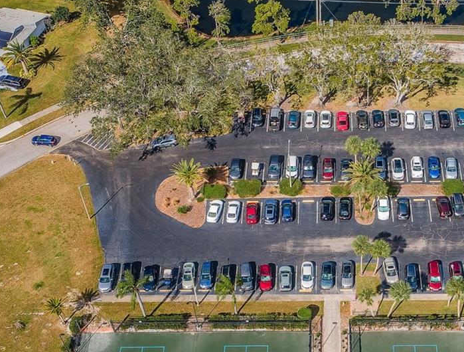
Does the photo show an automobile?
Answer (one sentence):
Yes, an automobile is visible in the scene.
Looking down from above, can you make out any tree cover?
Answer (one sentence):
Yes, tree cover can be seen from above here.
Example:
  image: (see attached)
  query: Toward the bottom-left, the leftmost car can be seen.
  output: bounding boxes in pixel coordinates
[98,264,115,292]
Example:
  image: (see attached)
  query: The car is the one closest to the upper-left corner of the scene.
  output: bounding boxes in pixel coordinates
[1,75,27,89]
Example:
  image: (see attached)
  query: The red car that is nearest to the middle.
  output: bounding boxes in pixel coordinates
[246,202,260,224]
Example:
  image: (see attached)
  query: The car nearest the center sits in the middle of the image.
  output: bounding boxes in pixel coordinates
[230,157,244,181]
